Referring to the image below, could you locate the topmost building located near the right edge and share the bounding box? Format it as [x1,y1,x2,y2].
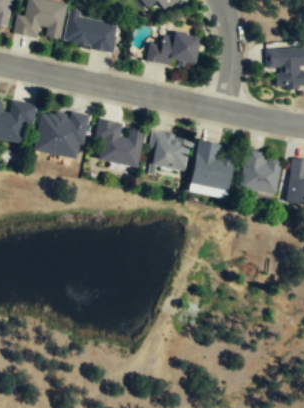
[268,46,304,88]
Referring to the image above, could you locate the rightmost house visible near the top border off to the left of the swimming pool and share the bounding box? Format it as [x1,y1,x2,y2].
[64,6,115,54]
